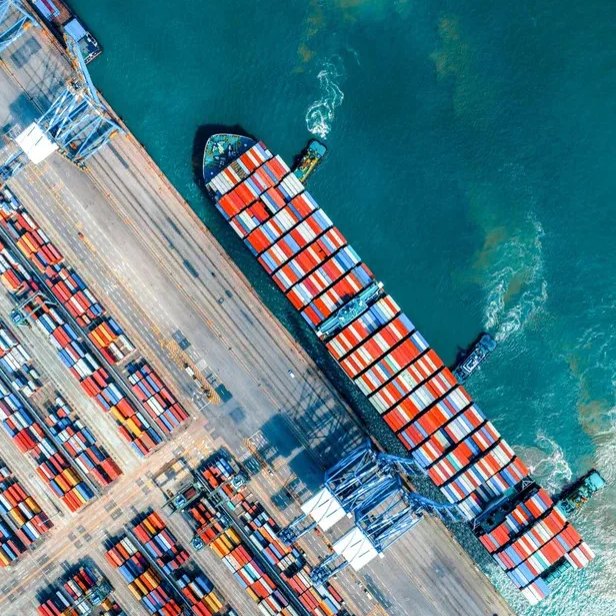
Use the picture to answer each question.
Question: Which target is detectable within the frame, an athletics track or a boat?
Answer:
boat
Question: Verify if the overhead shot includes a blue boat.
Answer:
Yes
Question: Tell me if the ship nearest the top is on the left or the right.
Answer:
left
